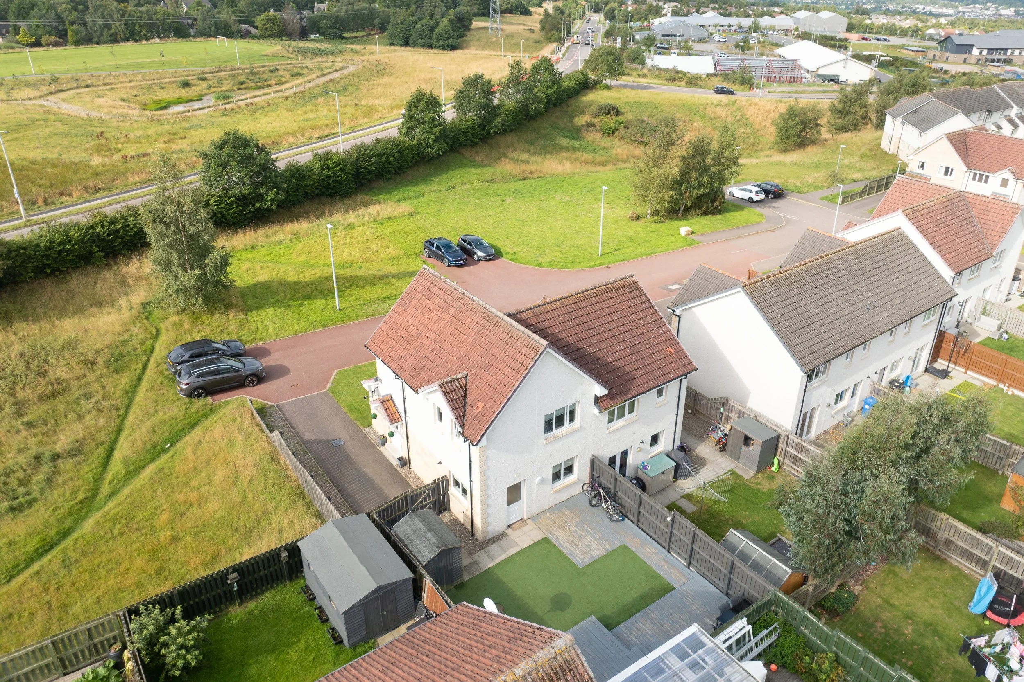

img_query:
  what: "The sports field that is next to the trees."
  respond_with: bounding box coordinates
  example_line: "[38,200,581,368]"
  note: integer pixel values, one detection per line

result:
[0,42,297,76]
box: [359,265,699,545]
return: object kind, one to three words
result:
house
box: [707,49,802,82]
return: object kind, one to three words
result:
building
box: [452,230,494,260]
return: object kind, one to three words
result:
car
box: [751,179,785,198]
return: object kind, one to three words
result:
car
